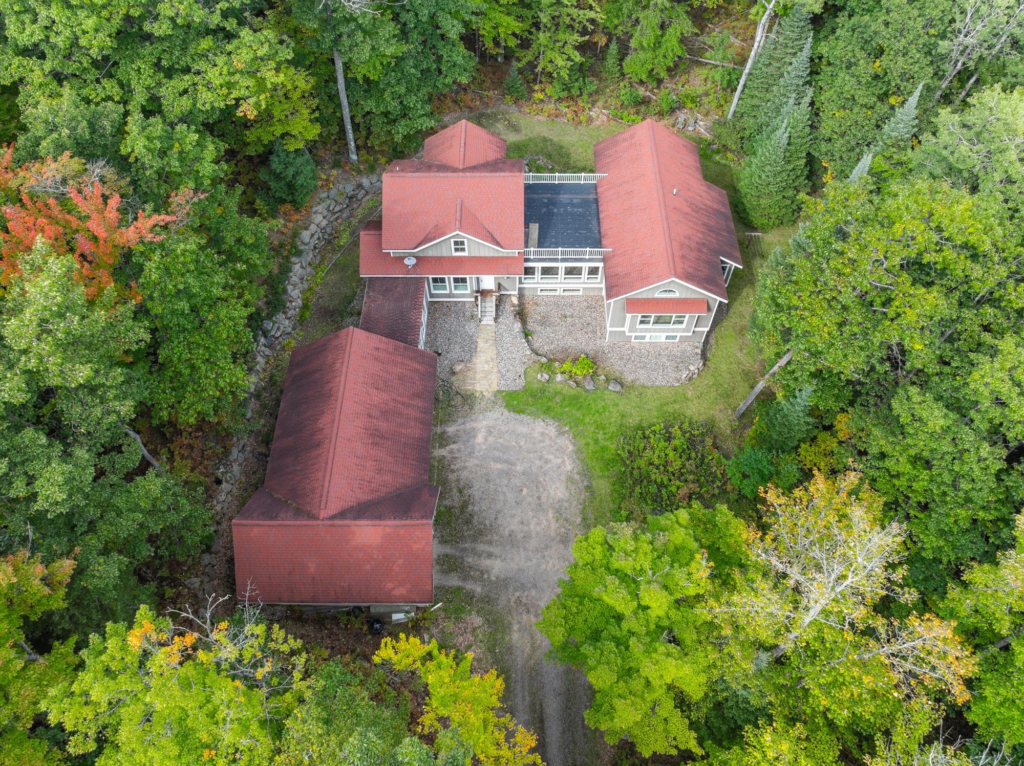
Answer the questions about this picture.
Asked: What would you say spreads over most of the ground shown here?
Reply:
trees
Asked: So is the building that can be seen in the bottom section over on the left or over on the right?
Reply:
left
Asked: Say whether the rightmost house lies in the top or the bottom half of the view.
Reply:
top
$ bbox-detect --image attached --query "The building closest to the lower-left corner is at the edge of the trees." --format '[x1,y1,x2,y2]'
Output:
[232,326,441,610]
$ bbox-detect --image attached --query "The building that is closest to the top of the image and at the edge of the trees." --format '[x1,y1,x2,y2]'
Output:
[359,119,743,350]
